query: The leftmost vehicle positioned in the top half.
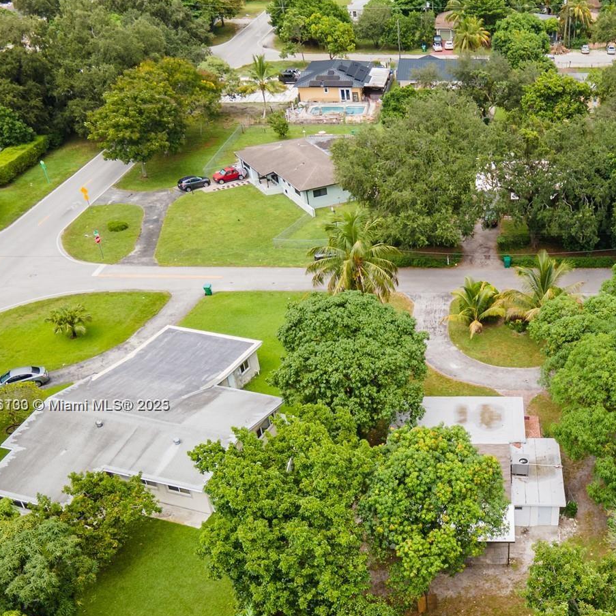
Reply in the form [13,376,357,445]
[175,172,212,189]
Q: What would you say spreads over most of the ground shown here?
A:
trees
